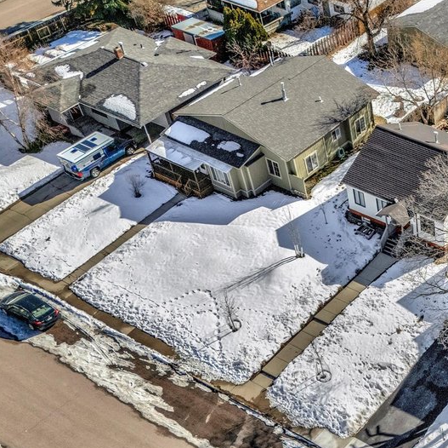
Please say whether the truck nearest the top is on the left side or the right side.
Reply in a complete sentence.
It is on the left.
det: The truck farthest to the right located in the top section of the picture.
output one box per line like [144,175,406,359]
[53,133,135,181]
